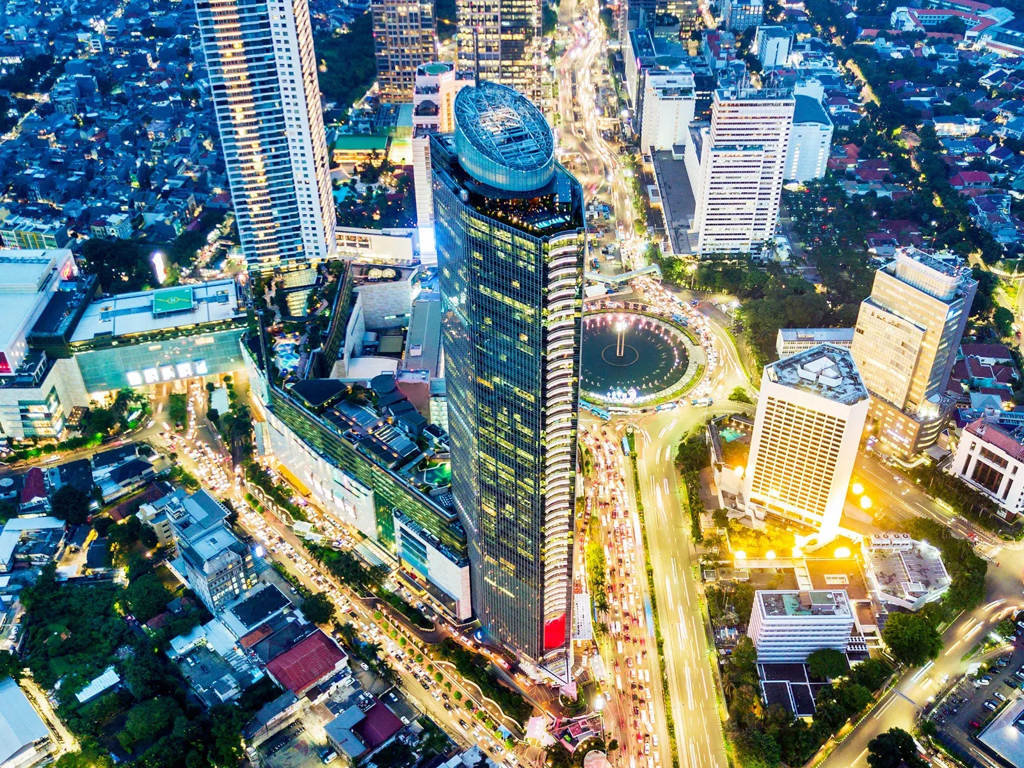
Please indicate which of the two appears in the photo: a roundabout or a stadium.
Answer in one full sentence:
This aerial view contains a roundabout.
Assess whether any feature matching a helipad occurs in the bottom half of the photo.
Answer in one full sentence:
No, there's no helipad to be seen in the bottom half of the photo.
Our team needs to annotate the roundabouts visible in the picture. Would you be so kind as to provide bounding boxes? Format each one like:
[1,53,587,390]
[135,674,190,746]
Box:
[578,276,766,450]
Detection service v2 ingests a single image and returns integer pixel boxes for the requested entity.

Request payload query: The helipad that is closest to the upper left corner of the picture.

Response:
[153,287,194,320]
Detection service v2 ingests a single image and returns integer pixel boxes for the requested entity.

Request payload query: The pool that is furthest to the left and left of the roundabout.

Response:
[274,339,301,375]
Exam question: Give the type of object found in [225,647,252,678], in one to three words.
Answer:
house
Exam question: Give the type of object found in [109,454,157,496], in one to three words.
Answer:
house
